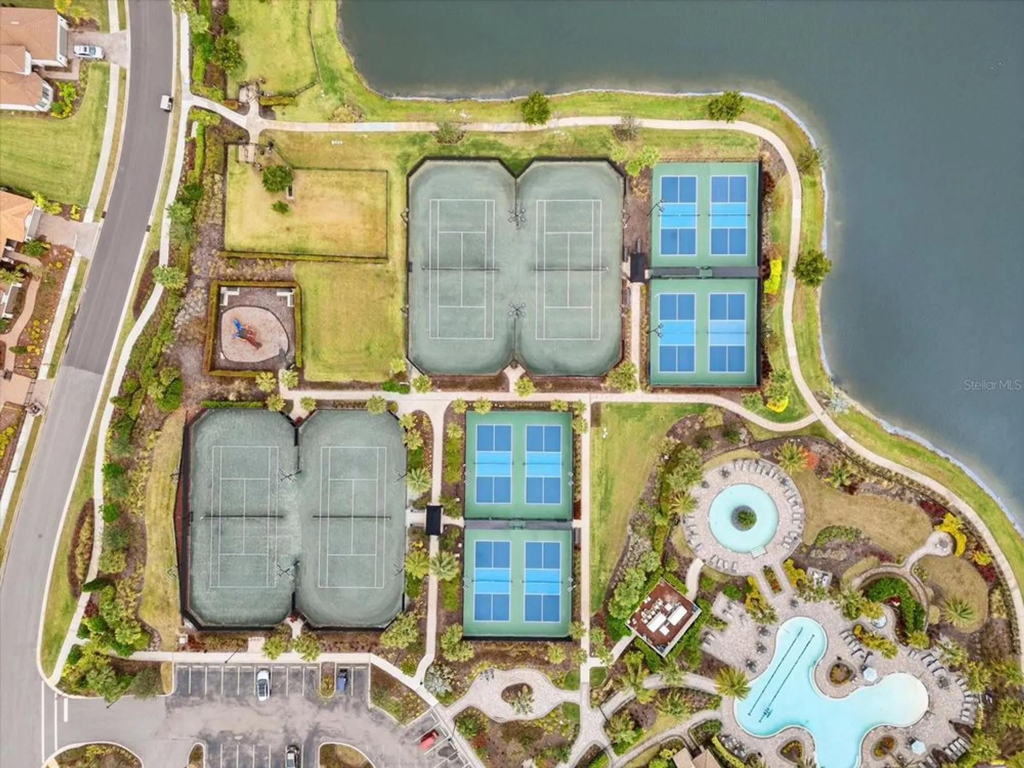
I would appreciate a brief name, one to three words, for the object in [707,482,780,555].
swimming pool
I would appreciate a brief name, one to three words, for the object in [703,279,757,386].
sports court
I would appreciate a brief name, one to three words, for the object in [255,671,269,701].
car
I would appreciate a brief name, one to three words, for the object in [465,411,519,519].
sports court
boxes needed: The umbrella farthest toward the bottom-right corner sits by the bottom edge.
[908,737,925,753]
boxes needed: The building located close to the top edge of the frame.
[0,7,67,111]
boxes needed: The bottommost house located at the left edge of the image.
[0,186,37,264]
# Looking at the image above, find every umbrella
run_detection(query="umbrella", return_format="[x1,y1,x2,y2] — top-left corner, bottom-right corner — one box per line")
[908,737,925,753]
[862,666,877,681]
